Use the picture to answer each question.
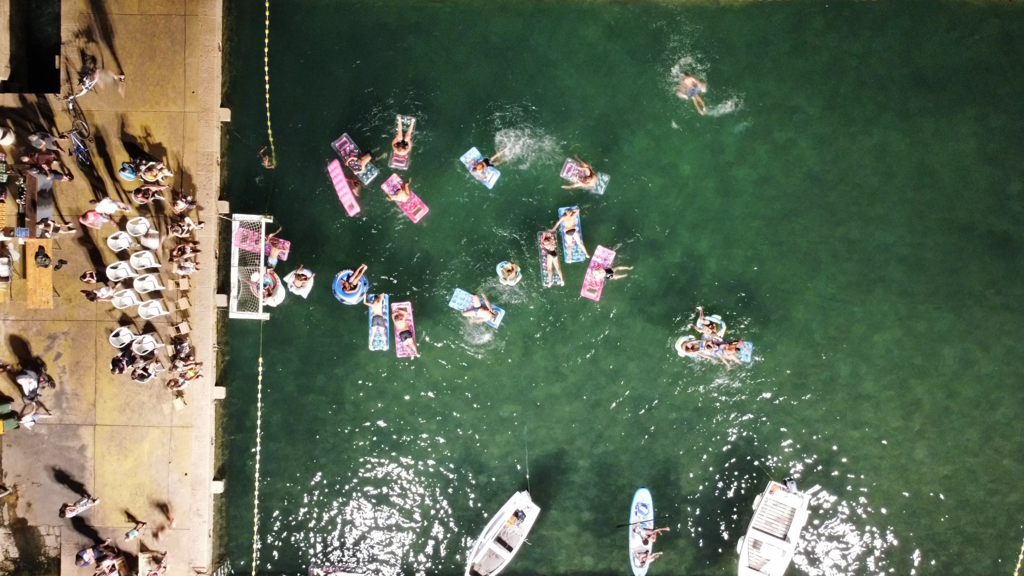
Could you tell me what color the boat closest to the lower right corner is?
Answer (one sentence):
In this view, the boat closest to the lower right corner is white.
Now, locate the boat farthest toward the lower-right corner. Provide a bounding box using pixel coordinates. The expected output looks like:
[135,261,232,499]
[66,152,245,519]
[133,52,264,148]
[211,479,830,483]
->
[737,483,814,576]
